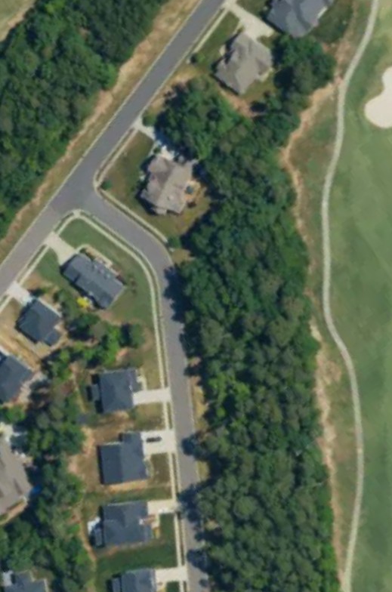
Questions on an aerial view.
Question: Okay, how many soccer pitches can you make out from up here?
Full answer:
There are no soccer pitches in the image.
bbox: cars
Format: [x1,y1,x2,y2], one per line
[157,507,170,513]
[148,436,161,442]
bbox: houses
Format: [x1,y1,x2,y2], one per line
[97,430,149,484]
[15,297,63,344]
[0,350,35,408]
[58,248,124,314]
[137,150,198,218]
[110,568,156,592]
[211,26,276,92]
[90,367,143,410]
[263,0,334,41]
[93,501,155,546]
[0,427,33,512]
